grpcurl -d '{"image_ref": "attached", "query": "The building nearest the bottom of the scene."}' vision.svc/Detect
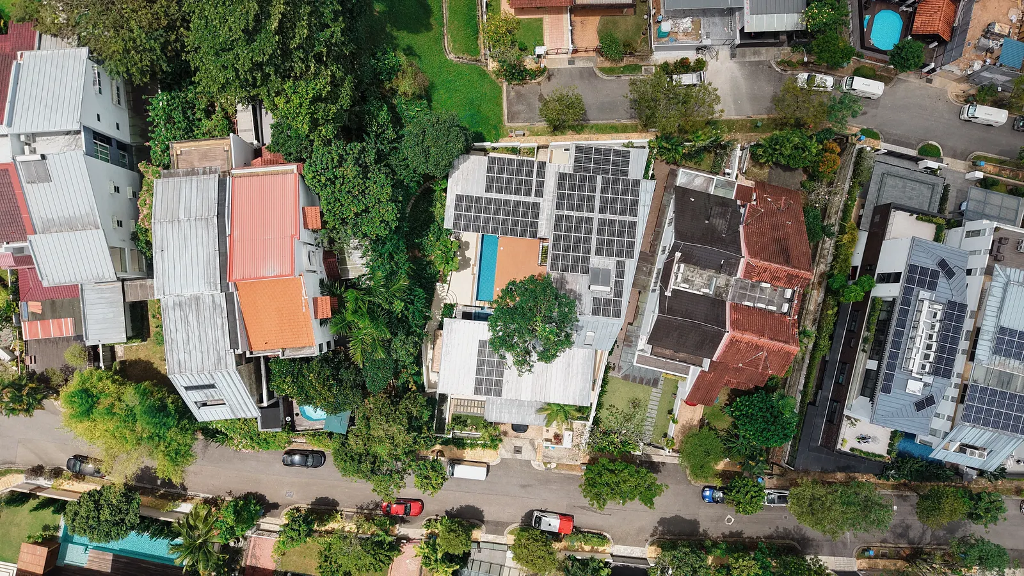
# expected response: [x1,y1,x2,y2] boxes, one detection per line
[16,534,72,576]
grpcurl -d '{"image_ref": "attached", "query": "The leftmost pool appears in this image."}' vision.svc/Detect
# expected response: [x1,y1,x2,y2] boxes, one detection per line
[56,513,188,567]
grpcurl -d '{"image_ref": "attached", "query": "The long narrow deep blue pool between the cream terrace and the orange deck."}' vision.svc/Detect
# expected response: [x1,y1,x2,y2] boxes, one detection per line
[470,234,497,306]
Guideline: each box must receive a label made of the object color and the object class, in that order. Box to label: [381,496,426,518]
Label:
red car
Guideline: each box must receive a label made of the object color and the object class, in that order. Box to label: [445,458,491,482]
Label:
white vehicle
